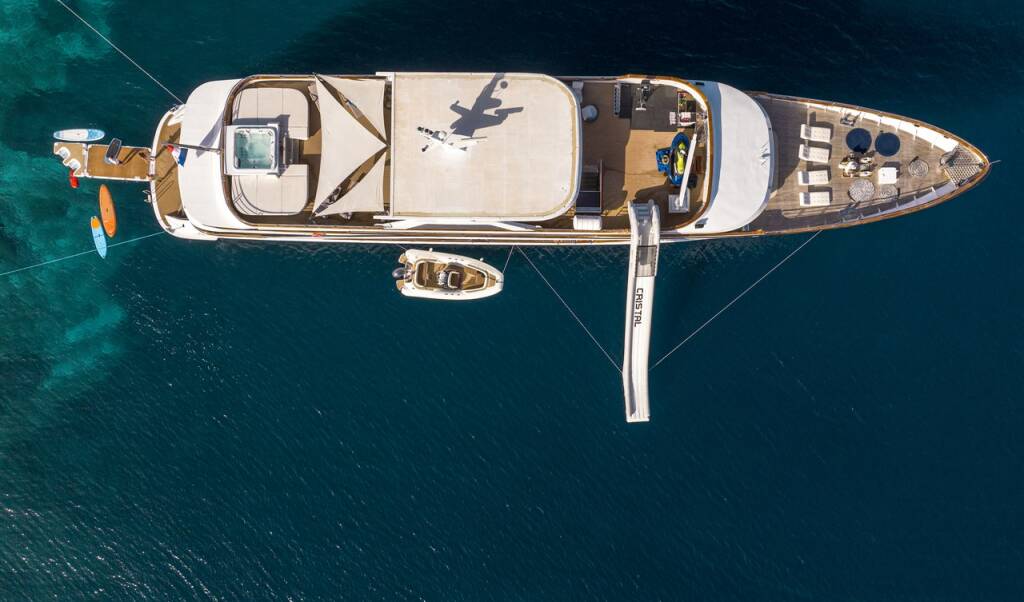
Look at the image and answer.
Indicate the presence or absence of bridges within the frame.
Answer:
No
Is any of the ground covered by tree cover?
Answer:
No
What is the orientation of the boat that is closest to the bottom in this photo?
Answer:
from left to right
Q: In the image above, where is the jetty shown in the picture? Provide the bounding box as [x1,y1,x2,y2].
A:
[54,143,150,183]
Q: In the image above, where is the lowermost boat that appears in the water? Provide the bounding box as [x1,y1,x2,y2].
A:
[392,249,504,300]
